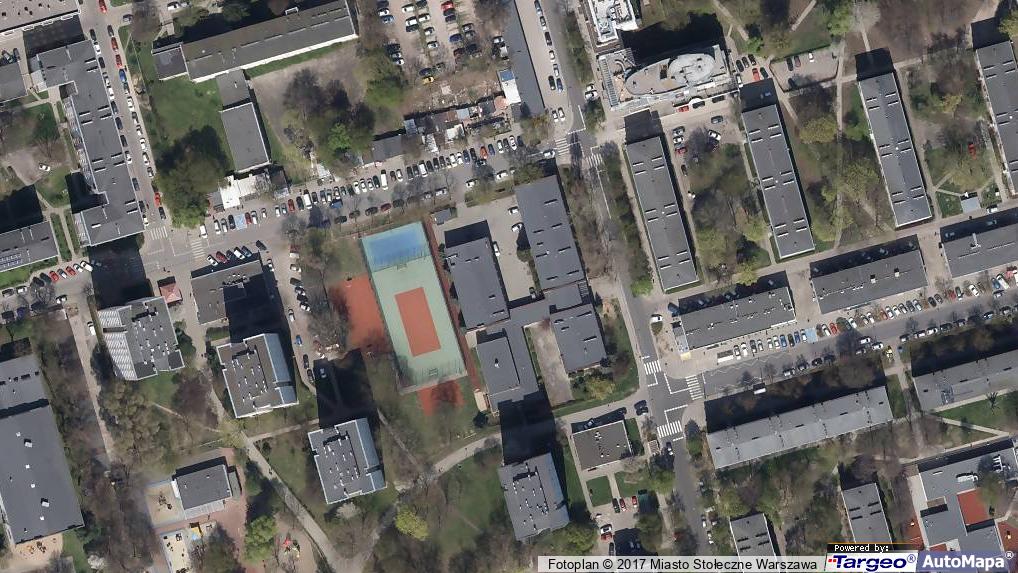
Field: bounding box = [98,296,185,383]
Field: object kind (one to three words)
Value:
building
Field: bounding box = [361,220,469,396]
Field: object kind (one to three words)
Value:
sports court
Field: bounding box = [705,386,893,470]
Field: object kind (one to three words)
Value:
building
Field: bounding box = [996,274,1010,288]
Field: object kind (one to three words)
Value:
vehicle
